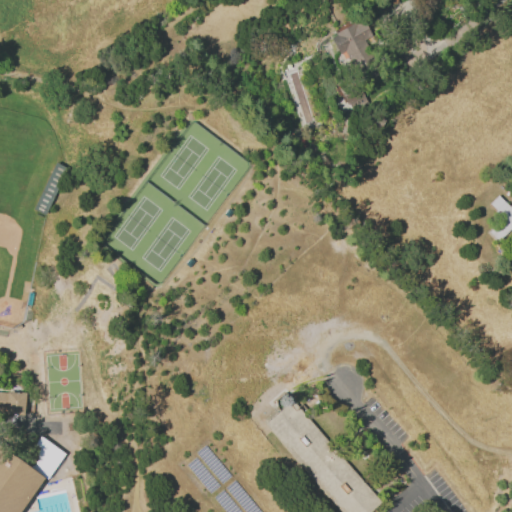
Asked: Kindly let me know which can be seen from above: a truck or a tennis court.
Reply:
tennis court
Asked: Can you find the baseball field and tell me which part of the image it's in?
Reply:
left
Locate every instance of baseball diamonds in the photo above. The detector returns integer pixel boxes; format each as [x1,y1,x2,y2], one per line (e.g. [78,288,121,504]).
[0,109,63,328]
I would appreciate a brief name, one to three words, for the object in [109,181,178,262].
tennis court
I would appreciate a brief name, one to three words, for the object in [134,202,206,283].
tennis court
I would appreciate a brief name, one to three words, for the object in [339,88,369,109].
house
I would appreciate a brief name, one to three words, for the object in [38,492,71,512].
swimming pool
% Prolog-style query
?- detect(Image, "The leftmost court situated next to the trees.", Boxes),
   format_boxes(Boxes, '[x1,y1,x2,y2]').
[45,350,85,414]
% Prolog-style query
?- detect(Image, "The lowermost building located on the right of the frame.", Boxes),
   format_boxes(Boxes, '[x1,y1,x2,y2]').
[271,404,382,512]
